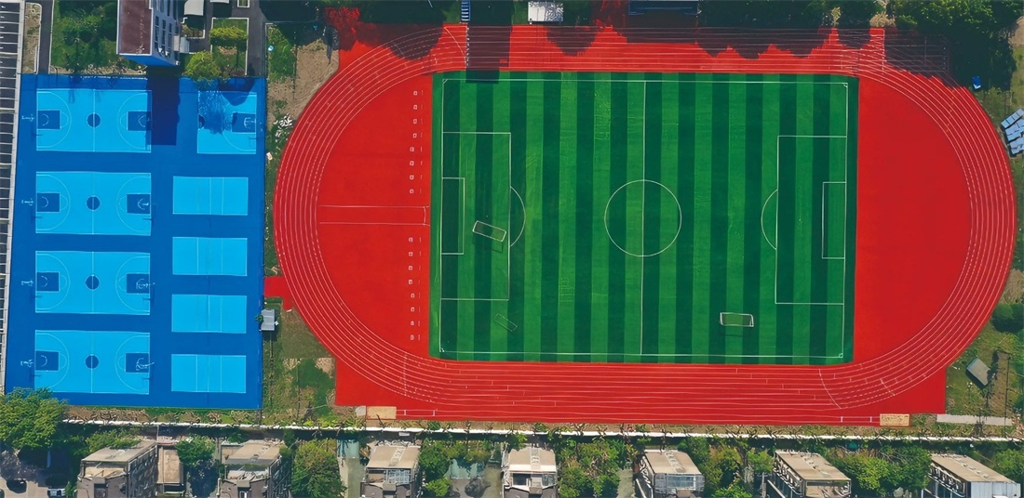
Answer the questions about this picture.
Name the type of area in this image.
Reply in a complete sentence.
What you see here is a sports ground.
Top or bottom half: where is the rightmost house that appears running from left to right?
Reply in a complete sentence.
It is in the bottom half that the rightmost house that appears running from left to right appears.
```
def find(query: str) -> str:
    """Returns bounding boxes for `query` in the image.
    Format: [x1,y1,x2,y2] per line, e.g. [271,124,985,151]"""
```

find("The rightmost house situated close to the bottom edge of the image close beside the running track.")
[930,460,1020,498]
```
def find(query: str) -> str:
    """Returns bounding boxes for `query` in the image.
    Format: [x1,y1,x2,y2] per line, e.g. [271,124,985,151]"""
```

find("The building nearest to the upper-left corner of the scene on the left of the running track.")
[116,0,179,65]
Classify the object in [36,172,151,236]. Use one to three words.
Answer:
basketball court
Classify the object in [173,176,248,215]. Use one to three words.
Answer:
sports court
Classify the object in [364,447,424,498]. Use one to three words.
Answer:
house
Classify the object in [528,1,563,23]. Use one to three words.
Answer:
building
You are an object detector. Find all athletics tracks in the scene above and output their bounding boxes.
[264,24,1014,427]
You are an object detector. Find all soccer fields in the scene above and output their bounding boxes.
[430,70,861,366]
